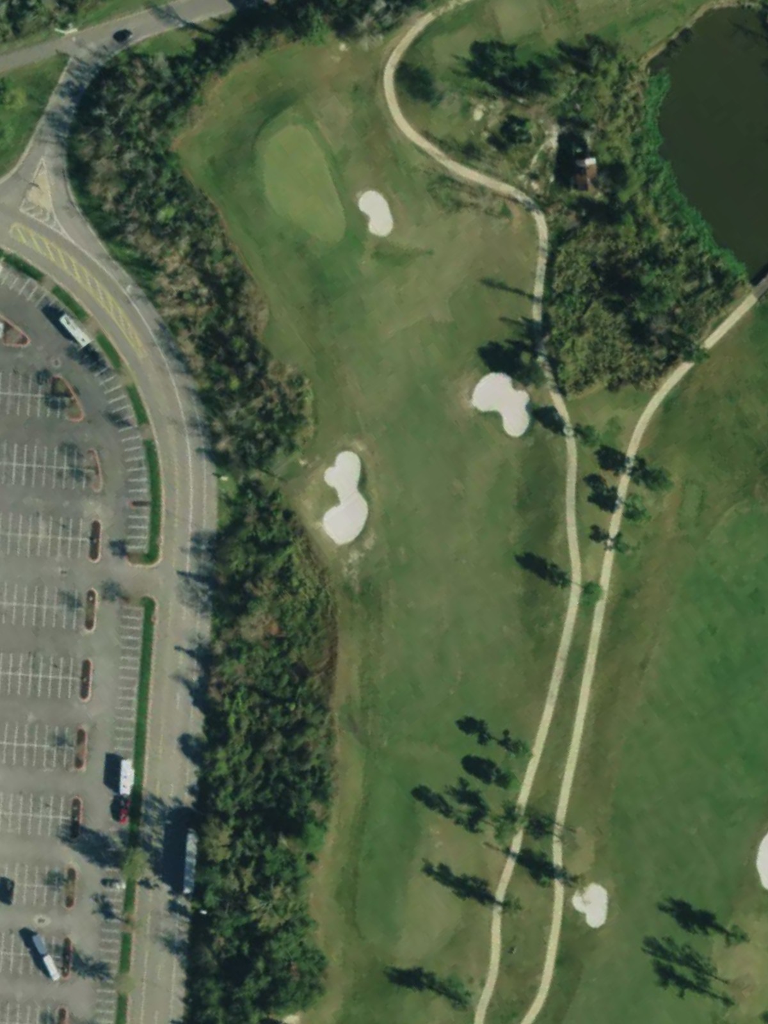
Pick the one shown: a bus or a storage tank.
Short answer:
bus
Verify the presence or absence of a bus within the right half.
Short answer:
No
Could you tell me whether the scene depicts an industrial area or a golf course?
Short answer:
golf course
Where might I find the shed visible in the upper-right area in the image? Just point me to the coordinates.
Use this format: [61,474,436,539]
[573,159,597,198]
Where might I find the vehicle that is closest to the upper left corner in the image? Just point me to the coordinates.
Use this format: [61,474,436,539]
[113,29,132,42]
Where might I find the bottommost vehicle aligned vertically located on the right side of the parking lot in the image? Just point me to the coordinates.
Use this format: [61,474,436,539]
[183,829,198,892]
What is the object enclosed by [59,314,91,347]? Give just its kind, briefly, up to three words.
bus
